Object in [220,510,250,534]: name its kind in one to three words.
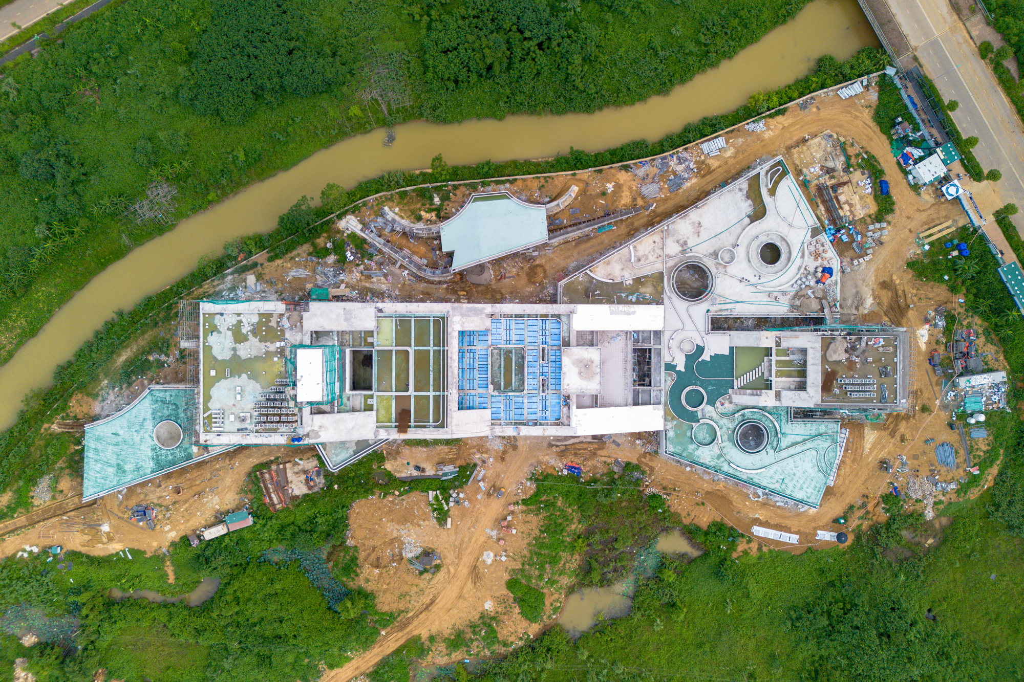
building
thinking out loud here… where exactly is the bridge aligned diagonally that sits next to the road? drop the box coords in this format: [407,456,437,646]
[856,0,922,71]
